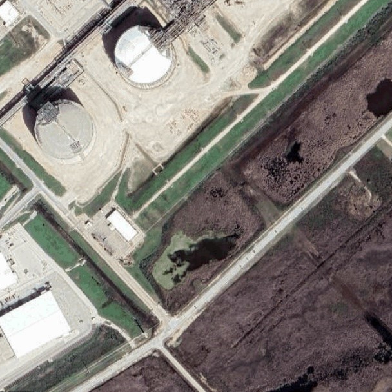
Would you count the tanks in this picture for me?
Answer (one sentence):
Looking from above, you can make out 2 tanks.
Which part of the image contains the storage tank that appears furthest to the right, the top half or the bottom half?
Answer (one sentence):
You can find the storage tank that appears furthest to the right in the top half.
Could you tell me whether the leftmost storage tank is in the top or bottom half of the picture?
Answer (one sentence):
The top half of the photo is where the leftmost storage tank is.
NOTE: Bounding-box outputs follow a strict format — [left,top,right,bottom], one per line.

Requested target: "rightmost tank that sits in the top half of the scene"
[114,26,176,90]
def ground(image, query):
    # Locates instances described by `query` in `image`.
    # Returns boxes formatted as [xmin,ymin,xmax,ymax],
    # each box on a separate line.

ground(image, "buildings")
[106,210,137,242]
[0,252,17,290]
[0,1,19,27]
[0,290,71,360]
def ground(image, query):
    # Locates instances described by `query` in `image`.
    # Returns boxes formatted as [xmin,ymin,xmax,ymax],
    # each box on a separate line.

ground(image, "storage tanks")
[114,26,176,90]
[34,101,97,165]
